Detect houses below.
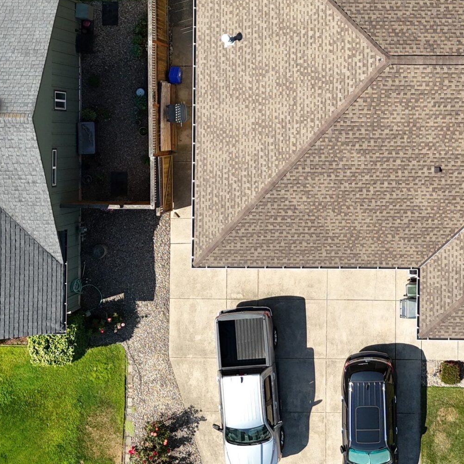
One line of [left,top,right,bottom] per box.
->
[192,0,464,339]
[0,0,81,340]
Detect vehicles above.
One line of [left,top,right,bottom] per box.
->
[209,305,289,464]
[337,347,404,464]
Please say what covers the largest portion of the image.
buildings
